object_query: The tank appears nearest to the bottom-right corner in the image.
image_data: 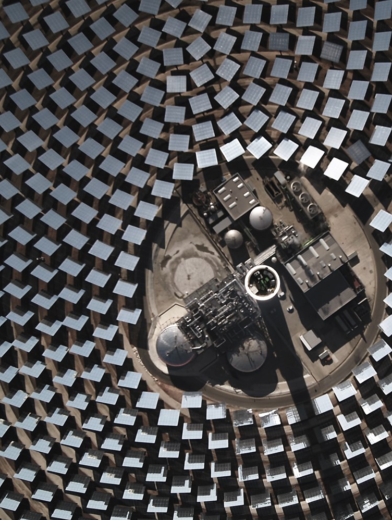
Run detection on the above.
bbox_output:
[227,331,267,373]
